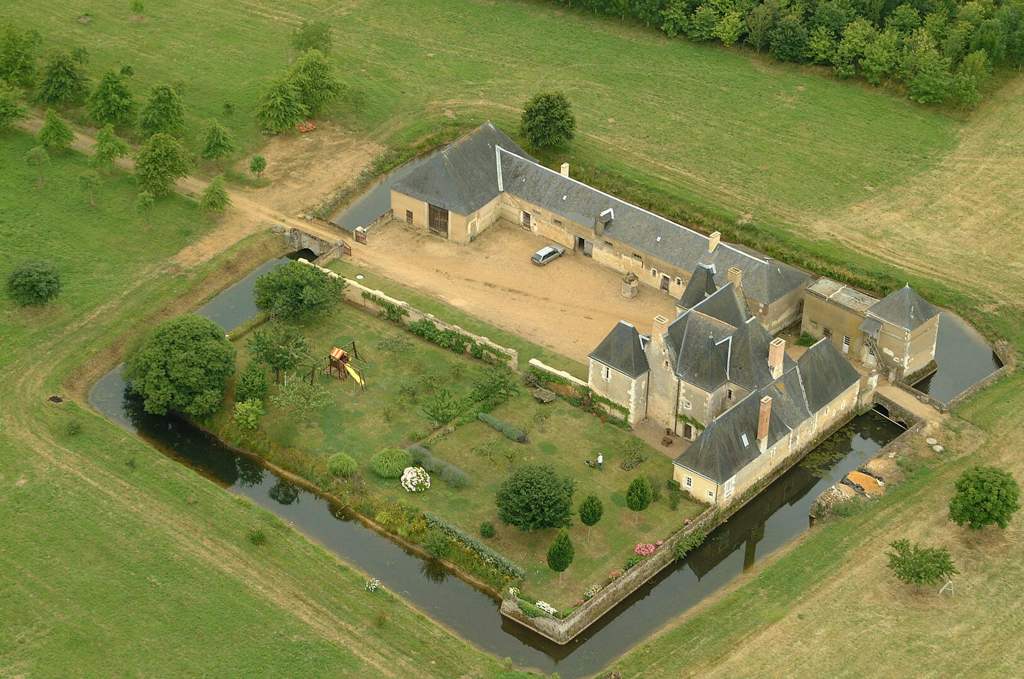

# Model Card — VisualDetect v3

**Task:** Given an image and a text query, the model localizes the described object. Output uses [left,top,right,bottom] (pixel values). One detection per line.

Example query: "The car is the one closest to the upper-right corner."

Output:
[531,244,566,265]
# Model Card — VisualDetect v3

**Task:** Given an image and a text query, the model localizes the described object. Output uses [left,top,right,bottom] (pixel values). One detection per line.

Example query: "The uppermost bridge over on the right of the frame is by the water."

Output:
[865,380,946,428]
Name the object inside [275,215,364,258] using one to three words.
bridge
